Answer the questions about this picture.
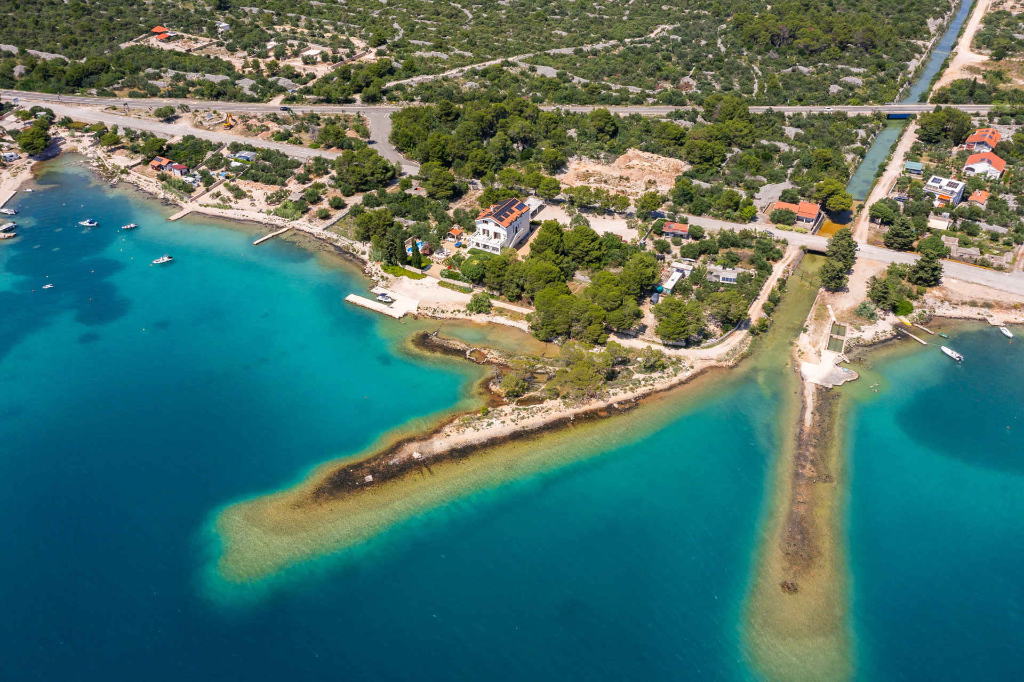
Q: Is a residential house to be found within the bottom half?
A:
No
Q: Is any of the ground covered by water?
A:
Yes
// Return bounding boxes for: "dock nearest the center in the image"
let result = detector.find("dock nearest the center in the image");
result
[345,286,420,321]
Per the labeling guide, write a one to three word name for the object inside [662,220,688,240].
building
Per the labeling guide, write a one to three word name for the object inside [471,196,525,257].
house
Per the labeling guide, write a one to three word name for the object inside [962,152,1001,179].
house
